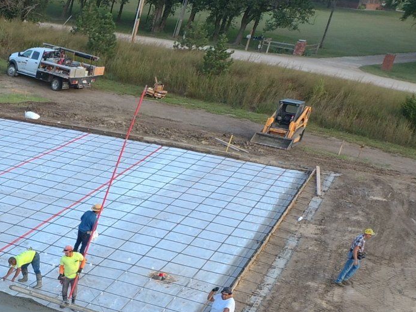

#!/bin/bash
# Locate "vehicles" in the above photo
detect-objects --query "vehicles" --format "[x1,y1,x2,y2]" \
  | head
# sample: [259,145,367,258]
[18,49,105,91]
[252,95,325,150]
